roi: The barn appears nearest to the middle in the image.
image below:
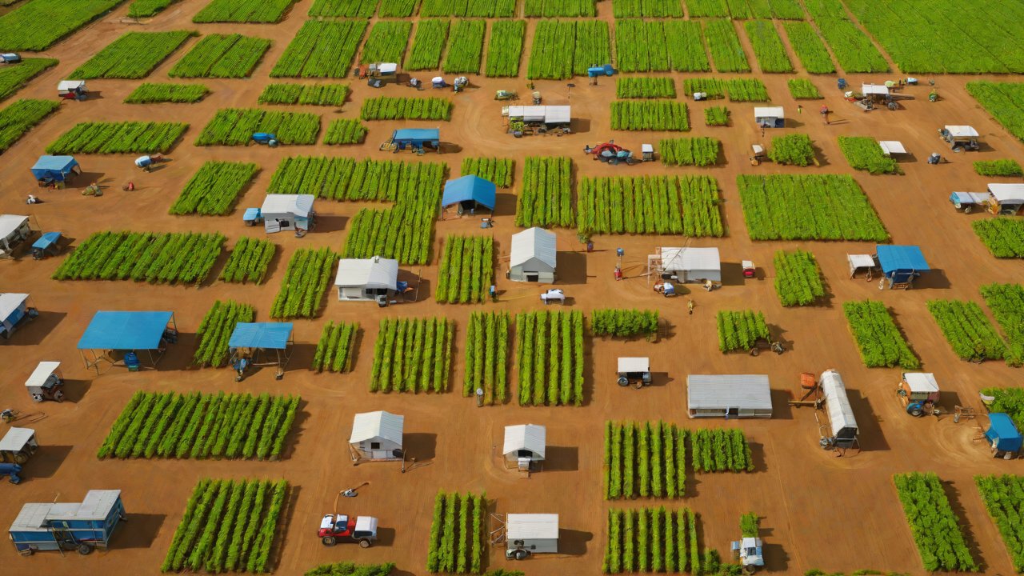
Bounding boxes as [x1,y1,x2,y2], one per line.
[510,227,557,282]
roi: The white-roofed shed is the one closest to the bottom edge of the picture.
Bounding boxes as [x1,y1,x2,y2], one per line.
[506,513,559,552]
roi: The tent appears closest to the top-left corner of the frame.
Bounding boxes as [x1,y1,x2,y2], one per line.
[31,155,82,184]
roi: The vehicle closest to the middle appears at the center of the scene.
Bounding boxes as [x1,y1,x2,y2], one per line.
[538,288,567,307]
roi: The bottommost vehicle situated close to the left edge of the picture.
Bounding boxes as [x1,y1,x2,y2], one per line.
[7,489,139,561]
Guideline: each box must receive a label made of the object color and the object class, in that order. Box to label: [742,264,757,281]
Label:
red car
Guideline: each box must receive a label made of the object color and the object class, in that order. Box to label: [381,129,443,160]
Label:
blue trailer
